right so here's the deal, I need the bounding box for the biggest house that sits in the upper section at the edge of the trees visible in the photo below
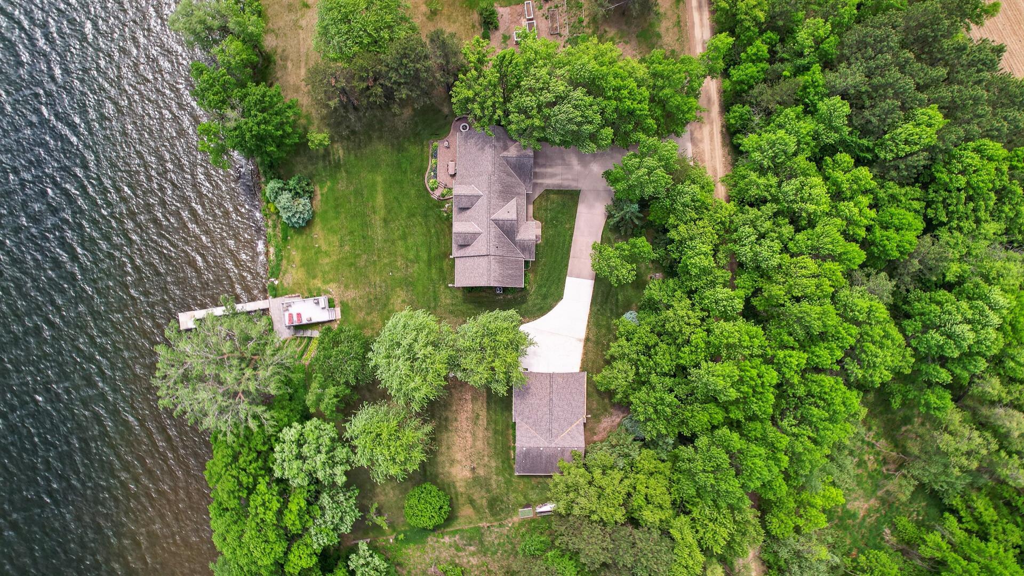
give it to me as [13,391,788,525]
[447,126,536,287]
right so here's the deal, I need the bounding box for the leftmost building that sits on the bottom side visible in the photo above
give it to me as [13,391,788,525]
[512,371,591,475]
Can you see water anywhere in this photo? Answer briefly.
Yes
